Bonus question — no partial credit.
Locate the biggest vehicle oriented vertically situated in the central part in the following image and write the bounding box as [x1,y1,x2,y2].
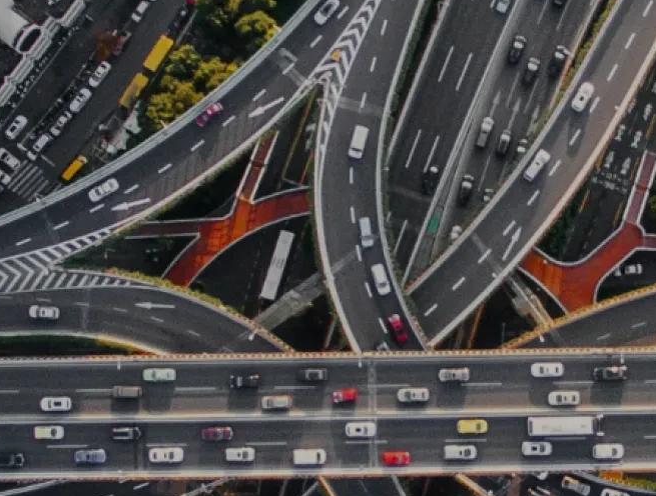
[262,228,290,298]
